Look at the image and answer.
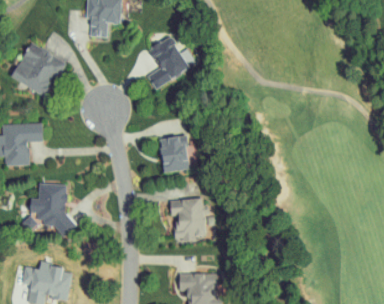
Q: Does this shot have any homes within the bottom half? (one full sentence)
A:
Yes, you'll find a home within the bottom half.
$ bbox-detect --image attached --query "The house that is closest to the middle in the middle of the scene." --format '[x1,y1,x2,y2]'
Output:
[160,136,190,174]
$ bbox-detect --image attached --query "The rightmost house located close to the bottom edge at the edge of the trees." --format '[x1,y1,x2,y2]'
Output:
[180,272,224,304]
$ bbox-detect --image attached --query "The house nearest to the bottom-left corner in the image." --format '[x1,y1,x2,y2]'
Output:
[22,260,72,304]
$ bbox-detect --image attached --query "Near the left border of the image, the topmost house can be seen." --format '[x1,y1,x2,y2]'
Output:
[11,42,68,98]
